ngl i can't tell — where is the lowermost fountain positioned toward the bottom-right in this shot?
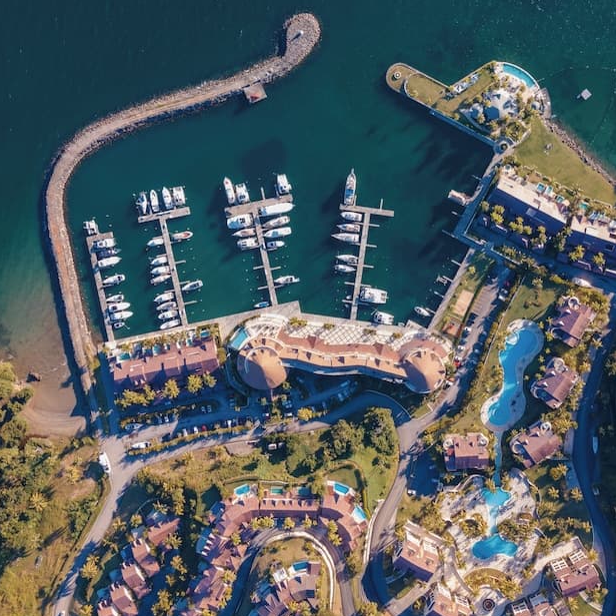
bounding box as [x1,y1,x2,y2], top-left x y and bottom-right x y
[479,596,497,615]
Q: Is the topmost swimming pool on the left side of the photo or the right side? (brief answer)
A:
right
